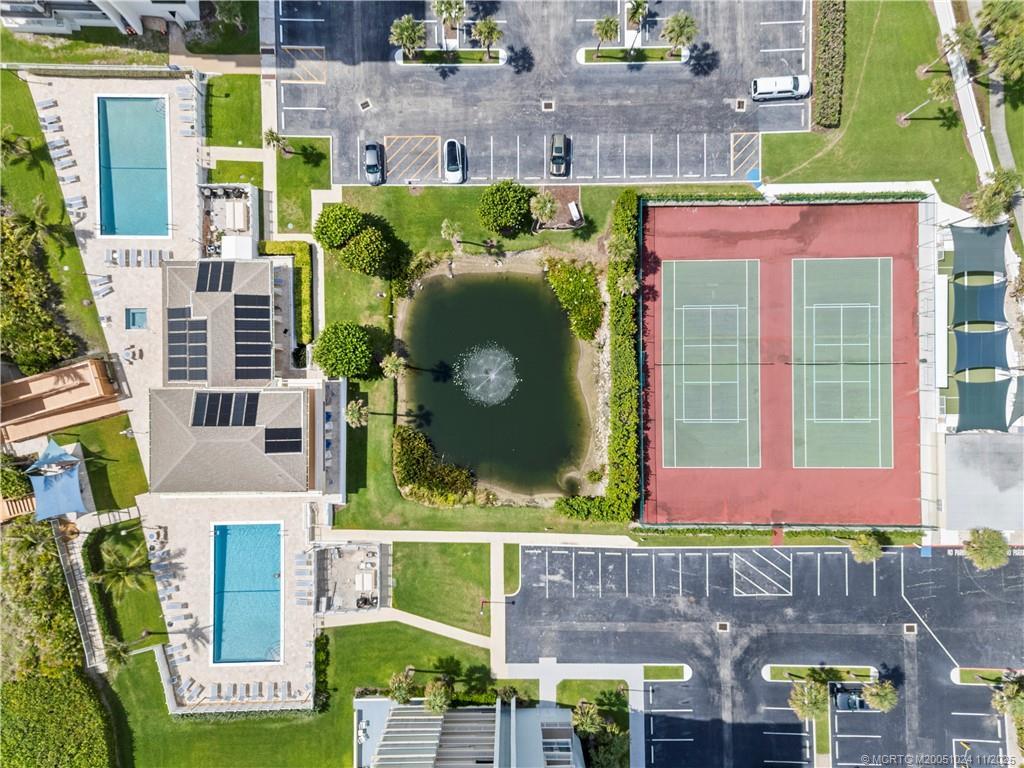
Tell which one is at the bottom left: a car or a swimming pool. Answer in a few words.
swimming pool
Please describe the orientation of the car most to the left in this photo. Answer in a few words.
up and down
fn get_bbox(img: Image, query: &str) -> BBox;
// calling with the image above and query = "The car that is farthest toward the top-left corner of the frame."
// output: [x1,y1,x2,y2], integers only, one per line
[363,142,383,186]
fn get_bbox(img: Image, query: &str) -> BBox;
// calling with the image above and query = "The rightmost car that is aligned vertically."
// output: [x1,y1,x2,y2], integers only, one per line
[549,134,570,178]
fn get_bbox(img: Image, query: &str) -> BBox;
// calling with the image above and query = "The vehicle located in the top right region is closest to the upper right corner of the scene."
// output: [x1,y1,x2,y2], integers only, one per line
[751,75,808,102]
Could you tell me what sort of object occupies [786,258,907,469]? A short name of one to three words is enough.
tennis court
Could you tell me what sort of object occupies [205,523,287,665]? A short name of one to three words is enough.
swimming pool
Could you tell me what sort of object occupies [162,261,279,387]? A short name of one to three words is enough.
building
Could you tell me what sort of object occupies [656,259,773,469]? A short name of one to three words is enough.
tennis court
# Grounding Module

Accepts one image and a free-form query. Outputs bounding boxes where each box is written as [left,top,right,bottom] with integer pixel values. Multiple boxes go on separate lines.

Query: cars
[443,140,464,184]
[363,142,383,186]
[836,690,880,713]
[751,75,808,102]
[549,134,570,178]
